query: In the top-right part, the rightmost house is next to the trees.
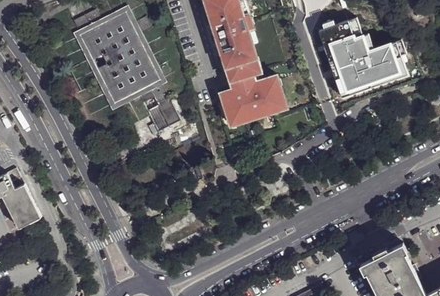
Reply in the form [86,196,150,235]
[320,20,412,100]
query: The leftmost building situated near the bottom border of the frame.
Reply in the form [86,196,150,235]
[360,245,426,296]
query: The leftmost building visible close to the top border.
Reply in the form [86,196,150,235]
[74,6,168,110]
